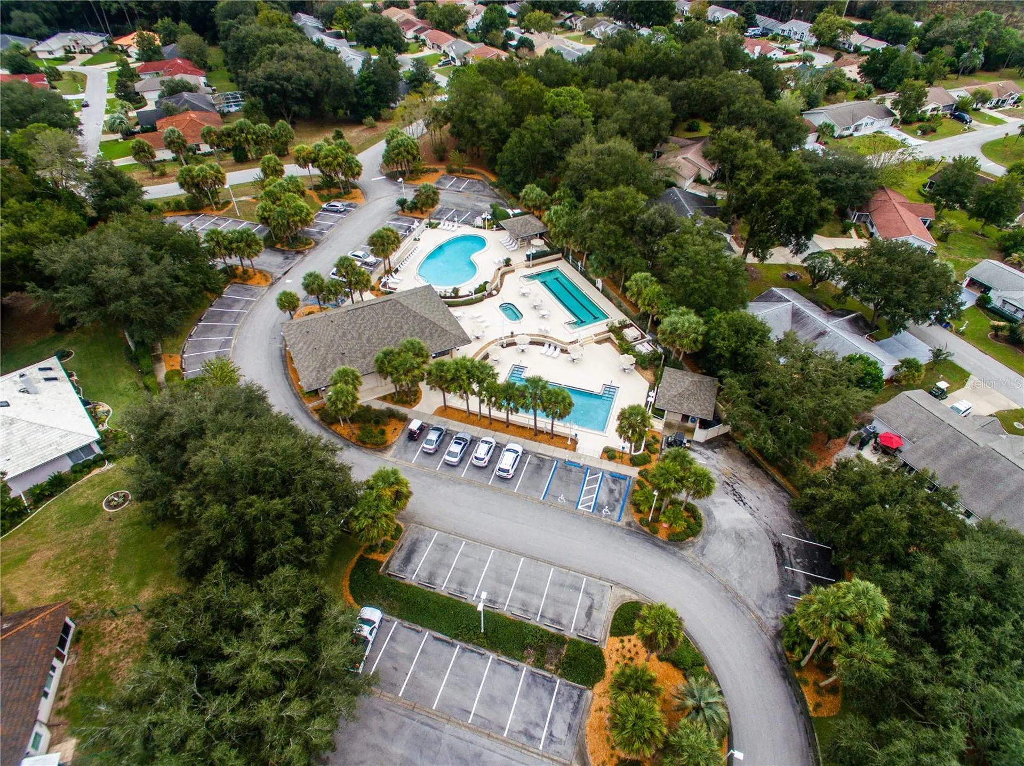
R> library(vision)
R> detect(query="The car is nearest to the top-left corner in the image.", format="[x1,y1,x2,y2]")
[78,96,91,109]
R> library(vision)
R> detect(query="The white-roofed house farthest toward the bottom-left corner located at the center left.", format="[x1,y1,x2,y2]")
[0,356,109,501]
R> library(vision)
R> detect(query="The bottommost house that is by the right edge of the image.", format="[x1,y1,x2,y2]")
[871,381,1024,505]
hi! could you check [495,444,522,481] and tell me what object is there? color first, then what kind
white car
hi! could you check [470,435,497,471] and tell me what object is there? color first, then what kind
white car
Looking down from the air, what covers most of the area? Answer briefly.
trees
